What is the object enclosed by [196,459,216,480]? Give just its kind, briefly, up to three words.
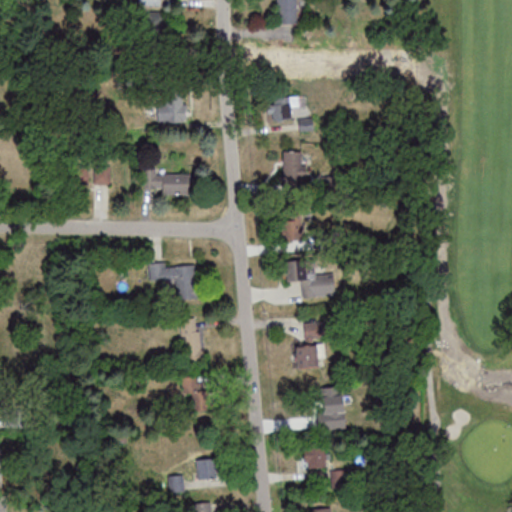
building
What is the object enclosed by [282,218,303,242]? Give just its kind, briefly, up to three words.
house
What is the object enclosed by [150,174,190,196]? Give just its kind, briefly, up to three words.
house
